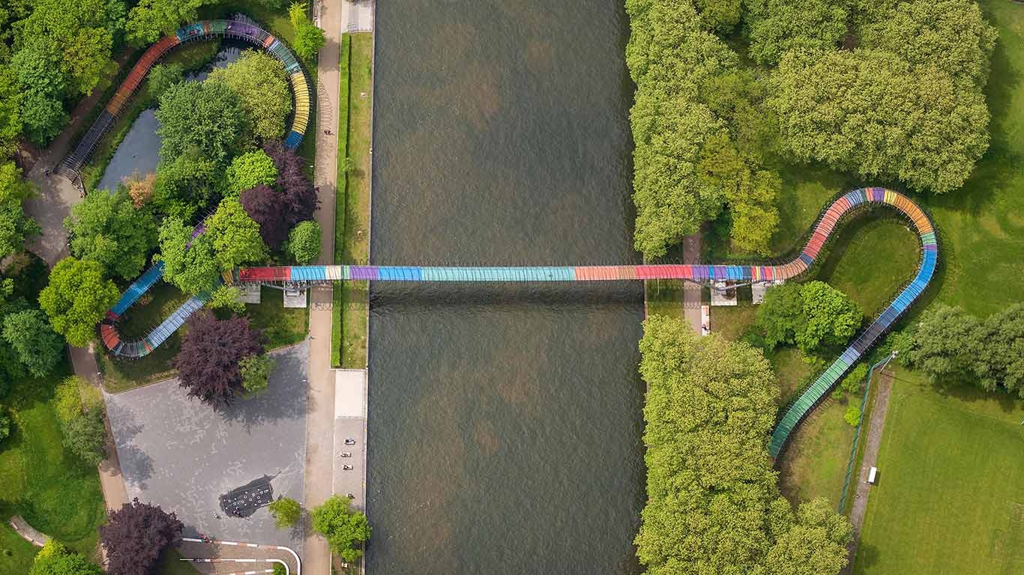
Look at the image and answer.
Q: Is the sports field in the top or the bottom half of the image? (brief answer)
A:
bottom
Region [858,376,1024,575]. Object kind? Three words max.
sports field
